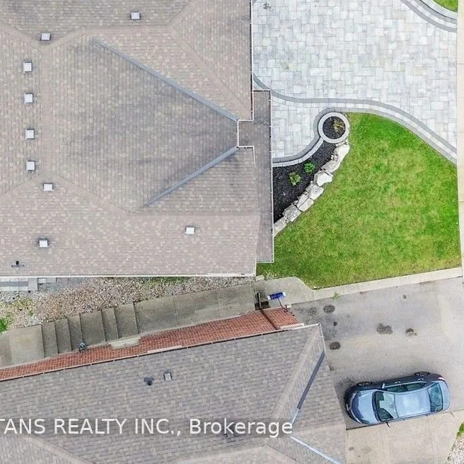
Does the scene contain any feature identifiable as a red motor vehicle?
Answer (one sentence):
No, the scene contains no red motor vehicle.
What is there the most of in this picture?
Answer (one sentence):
The bulk of the photo consists of buildings.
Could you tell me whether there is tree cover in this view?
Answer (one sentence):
No, there's no tree cover in this view.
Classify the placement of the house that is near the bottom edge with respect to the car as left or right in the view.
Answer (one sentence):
From the viewer's perspective, the house that is near the bottom edge falls to the left of the car.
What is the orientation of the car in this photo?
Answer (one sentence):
The car is laid out from left to right.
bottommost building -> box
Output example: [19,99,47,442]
[0,292,350,464]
